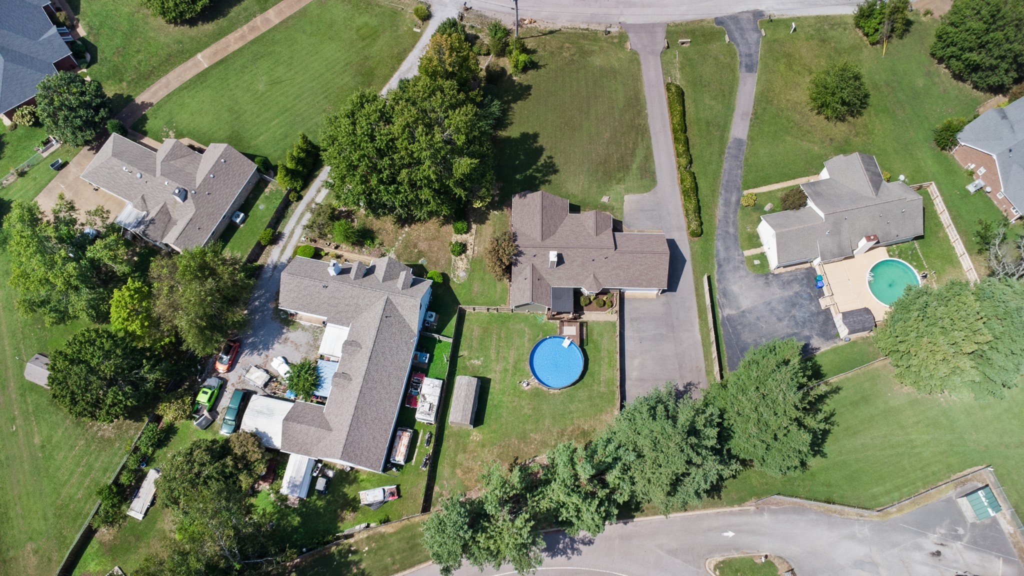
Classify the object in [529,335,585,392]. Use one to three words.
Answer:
swimming pool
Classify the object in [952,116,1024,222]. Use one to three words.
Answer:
house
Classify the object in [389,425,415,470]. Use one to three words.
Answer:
vehicle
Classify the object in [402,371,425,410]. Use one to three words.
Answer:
car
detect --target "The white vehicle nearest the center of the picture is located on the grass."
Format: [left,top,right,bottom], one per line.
[414,375,444,428]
